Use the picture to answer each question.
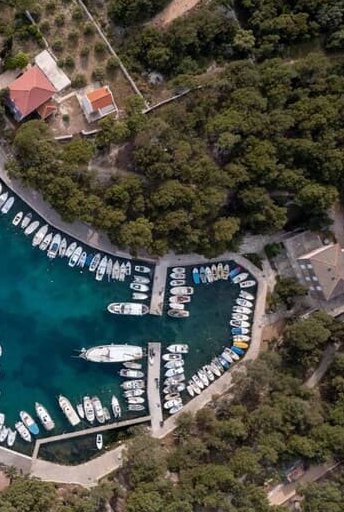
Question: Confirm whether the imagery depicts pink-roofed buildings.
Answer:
Yes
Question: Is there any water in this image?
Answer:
Yes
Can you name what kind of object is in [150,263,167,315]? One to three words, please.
pier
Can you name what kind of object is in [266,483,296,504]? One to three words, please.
house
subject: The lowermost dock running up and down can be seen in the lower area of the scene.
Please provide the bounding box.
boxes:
[146,342,164,438]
